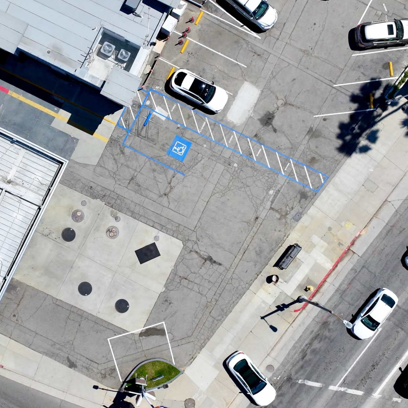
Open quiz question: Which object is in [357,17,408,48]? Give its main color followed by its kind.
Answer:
white car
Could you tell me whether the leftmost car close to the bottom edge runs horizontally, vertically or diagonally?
diagonally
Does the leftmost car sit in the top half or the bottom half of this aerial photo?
top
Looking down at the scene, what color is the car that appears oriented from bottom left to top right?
white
